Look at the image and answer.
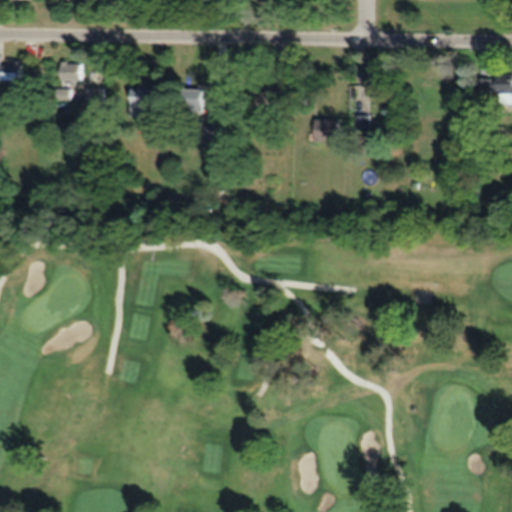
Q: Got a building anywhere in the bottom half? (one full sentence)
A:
No, no building can be made out in the bottom half.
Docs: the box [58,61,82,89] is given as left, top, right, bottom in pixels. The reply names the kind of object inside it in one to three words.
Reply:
house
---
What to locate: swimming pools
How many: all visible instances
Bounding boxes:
[362,170,378,186]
